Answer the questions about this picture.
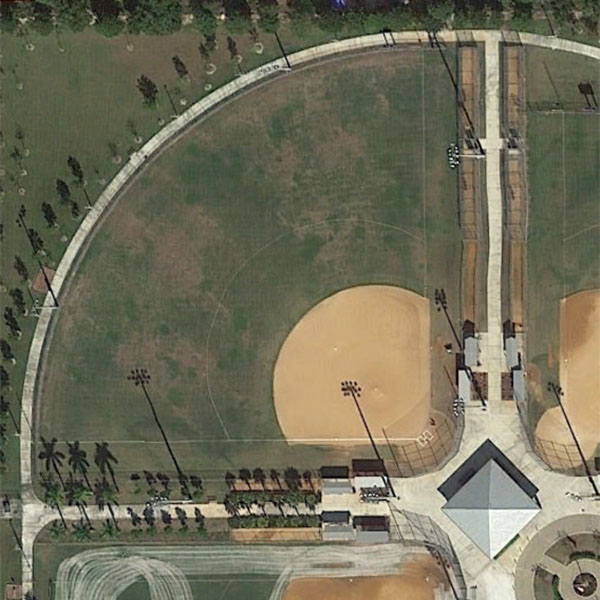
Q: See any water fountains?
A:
Yes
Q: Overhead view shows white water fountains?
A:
No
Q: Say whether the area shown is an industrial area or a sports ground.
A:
sports ground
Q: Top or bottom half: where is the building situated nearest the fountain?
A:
bottom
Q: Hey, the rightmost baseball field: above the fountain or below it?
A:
above it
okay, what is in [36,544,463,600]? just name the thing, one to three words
baseball field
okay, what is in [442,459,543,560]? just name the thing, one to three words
building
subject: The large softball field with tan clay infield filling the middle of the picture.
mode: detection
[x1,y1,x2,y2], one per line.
[36,48,464,482]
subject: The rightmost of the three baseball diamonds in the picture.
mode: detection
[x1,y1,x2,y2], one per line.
[526,112,600,473]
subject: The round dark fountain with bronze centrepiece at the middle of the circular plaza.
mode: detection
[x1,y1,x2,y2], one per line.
[572,572,596,597]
